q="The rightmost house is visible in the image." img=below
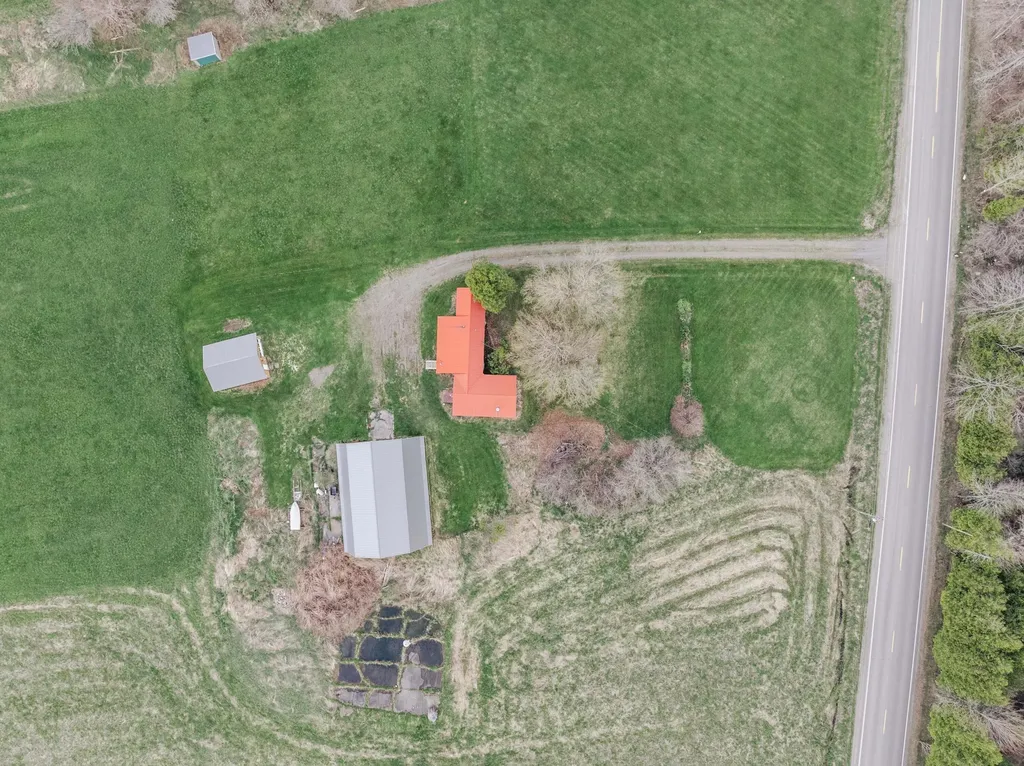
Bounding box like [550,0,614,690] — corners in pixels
[436,287,517,417]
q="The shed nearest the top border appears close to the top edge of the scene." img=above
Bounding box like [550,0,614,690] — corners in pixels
[187,32,222,67]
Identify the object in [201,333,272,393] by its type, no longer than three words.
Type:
building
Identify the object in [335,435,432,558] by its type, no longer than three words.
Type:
barn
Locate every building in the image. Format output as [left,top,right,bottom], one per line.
[335,435,432,558]
[436,287,517,417]
[187,32,222,67]
[201,333,272,393]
